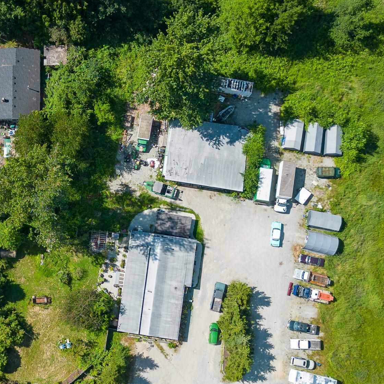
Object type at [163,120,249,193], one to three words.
building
